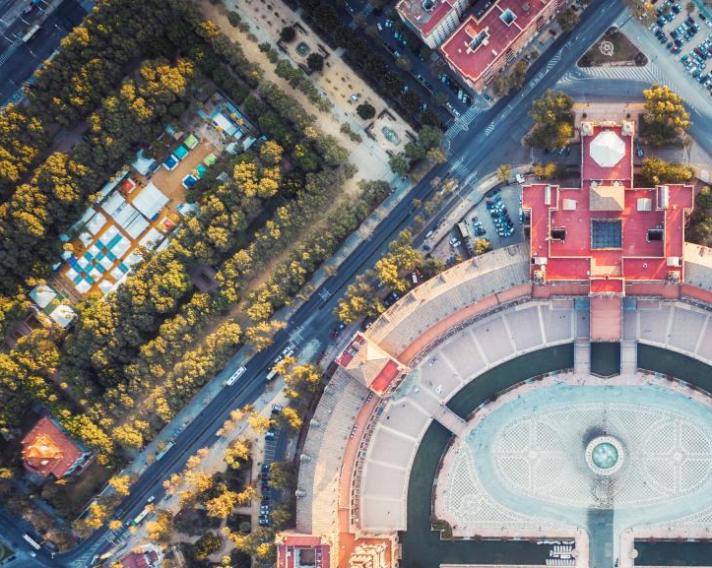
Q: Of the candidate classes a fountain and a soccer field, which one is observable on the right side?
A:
fountain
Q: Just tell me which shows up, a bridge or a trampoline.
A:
bridge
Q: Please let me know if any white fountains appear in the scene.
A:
Yes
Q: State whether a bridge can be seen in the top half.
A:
No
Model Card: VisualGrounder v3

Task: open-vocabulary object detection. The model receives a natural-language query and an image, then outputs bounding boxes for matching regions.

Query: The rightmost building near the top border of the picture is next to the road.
[440,0,568,92]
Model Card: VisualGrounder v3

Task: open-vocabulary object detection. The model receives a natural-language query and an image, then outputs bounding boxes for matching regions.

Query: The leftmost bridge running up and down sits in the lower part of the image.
[575,337,591,371]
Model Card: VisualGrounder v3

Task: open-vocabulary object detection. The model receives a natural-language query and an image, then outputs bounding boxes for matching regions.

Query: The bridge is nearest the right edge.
[621,337,637,371]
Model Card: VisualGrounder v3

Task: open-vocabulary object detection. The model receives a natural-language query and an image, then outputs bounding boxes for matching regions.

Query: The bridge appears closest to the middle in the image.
[430,401,469,438]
